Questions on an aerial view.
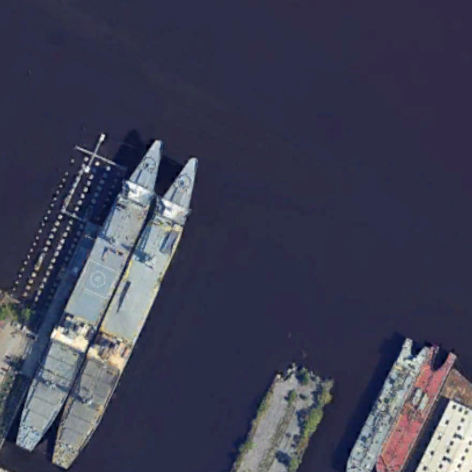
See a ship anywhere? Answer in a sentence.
Yes, there is a ship in the image.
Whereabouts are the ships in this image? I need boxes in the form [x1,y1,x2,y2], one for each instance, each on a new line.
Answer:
[52,158,197,471]
[377,345,456,472]
[347,339,431,472]
[16,141,163,452]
